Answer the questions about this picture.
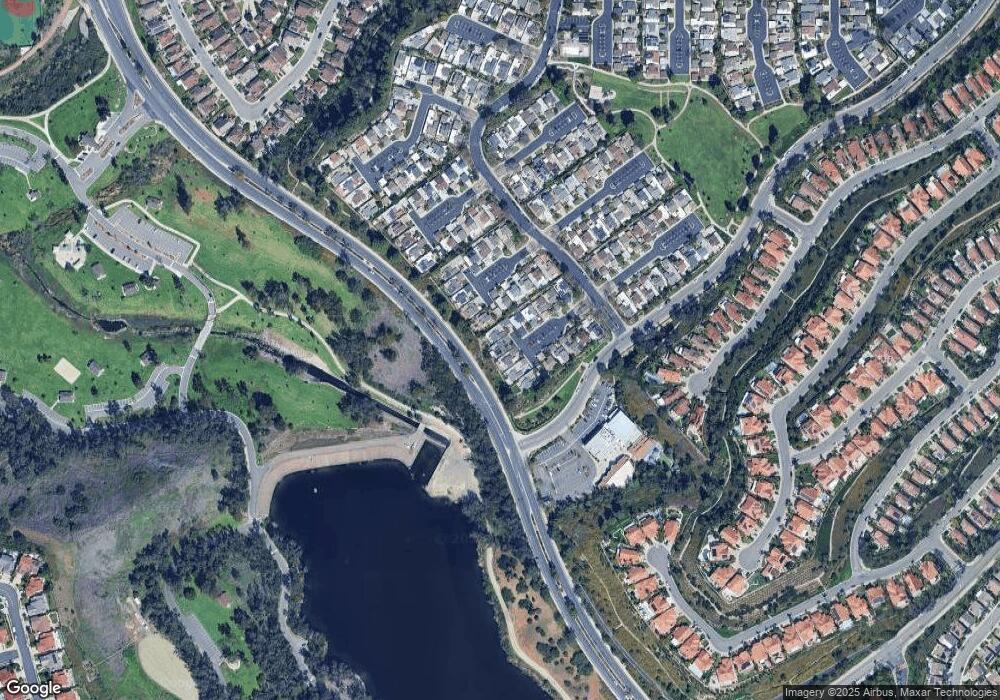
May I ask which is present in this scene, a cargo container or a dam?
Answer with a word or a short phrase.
dam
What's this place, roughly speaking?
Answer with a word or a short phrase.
residential area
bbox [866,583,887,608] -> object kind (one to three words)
house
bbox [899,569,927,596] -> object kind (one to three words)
house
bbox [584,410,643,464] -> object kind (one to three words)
building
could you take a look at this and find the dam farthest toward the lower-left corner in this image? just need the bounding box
[249,435,416,520]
